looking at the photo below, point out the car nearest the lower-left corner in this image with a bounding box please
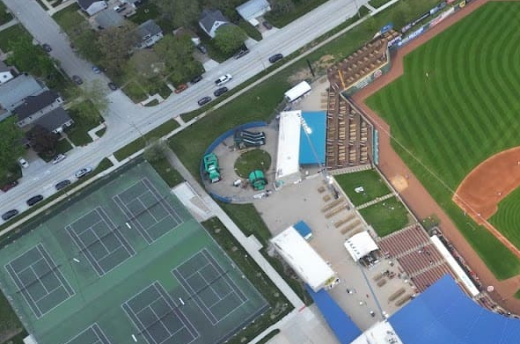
[1,208,19,220]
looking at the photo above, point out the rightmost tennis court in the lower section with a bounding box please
[172,248,247,324]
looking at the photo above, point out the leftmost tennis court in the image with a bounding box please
[3,243,76,319]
